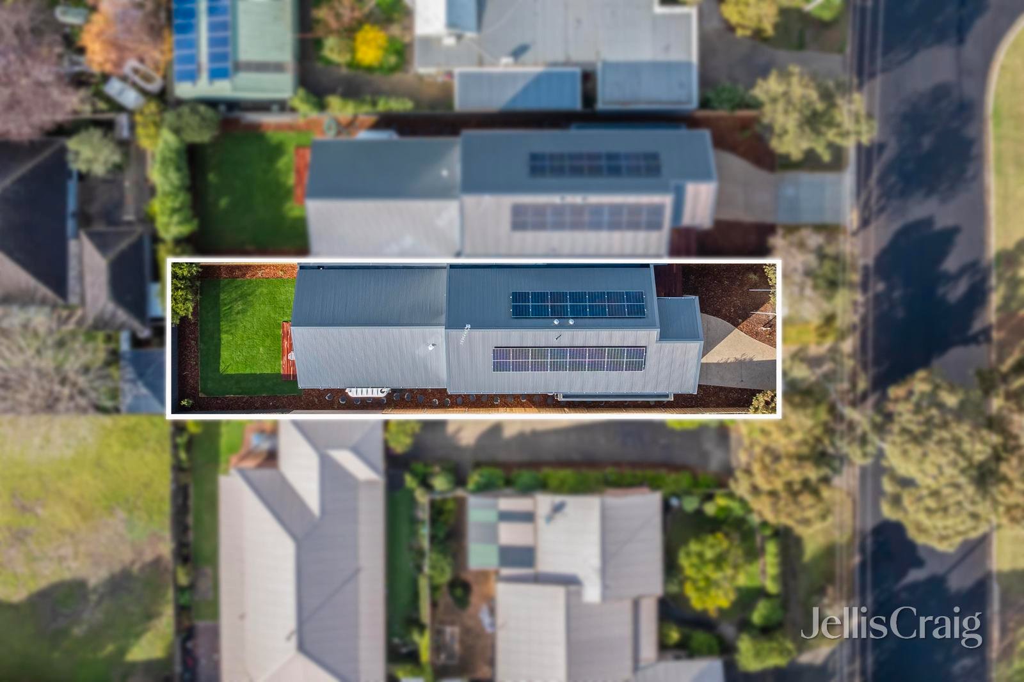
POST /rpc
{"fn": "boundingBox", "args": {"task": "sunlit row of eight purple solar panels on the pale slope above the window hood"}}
[491,348,646,373]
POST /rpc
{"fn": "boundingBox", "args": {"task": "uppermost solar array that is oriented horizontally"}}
[528,152,664,175]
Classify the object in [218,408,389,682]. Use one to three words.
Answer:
house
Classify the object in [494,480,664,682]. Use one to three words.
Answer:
house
